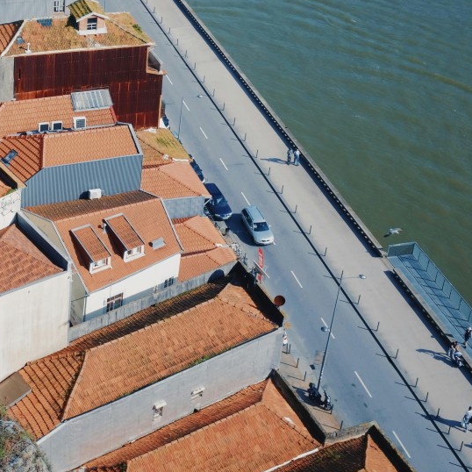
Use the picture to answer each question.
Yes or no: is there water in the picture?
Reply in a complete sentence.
Yes, there is water in the image.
